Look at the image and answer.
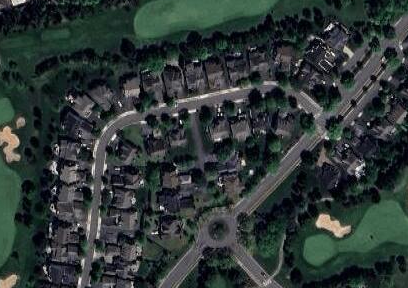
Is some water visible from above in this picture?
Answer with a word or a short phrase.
No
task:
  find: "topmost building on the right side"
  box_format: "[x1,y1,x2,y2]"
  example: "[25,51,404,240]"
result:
[325,21,364,51]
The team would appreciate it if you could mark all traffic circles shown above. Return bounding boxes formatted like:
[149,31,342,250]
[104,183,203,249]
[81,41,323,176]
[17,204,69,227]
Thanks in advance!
[196,208,239,249]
